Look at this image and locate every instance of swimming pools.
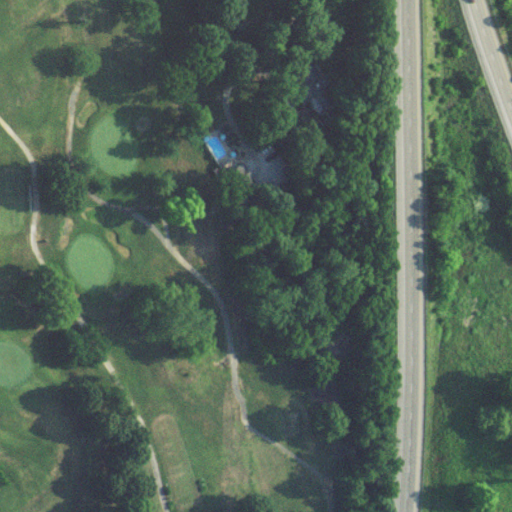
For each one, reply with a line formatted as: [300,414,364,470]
[208,136,226,162]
